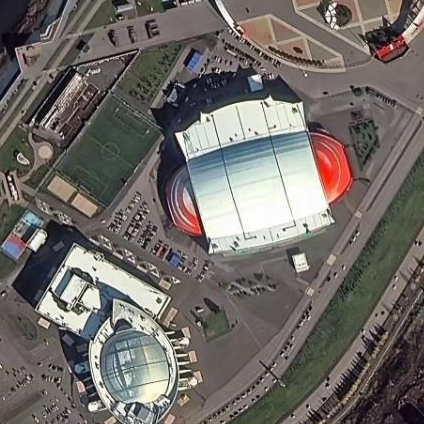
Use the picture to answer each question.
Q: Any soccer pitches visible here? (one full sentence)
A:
Yes, looking at the shot, I can spot a soccer pitch.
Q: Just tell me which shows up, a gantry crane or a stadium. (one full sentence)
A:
The image shows a stadium.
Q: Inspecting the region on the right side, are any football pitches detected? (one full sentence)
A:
No, there is no football pitch on the right side.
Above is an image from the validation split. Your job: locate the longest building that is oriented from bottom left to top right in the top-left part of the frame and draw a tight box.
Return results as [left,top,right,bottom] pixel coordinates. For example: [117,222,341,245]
[53,80,106,140]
